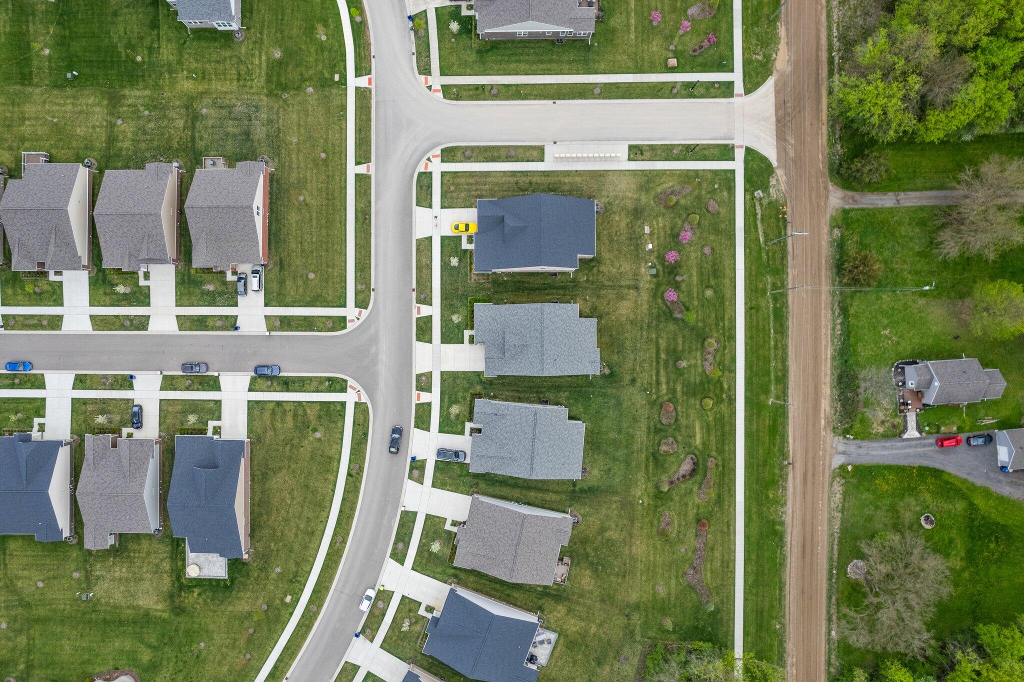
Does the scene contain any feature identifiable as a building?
Yes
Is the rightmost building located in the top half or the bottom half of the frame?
bottom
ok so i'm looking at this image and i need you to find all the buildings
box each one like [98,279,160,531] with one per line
[93,162,185,272]
[165,433,251,560]
[395,661,445,682]
[185,160,274,272]
[165,0,246,34]
[473,0,597,45]
[76,432,162,551]
[473,300,601,379]
[1,163,95,272]
[0,430,74,543]
[899,354,1007,417]
[451,492,574,588]
[469,397,585,482]
[422,582,541,682]
[473,194,596,277]
[996,426,1024,467]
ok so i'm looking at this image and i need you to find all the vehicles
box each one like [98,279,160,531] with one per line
[131,404,144,429]
[436,449,466,462]
[935,435,962,447]
[236,273,248,297]
[451,223,474,233]
[250,265,263,292]
[5,361,34,371]
[254,365,281,377]
[181,362,208,374]
[359,587,377,613]
[965,434,993,446]
[389,426,402,454]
